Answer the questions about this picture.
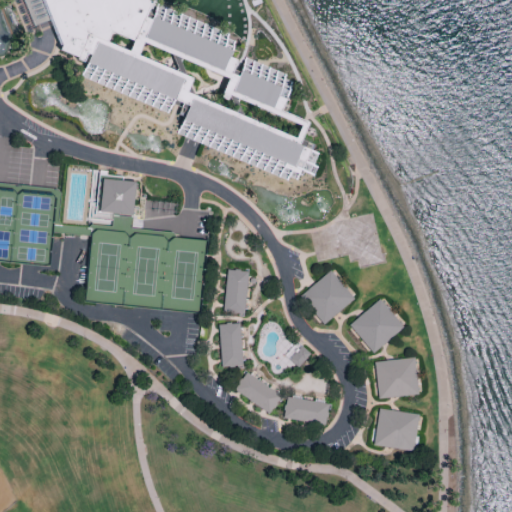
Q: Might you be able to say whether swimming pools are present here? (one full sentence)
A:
Yes, the image includes a swimming pool.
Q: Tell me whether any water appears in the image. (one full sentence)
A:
Yes, water shows up in the scene.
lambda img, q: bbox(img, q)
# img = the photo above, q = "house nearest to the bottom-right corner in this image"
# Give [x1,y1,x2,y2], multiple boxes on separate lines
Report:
[372,409,424,450]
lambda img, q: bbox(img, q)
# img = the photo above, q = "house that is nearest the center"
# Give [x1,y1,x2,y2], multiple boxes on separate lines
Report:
[224,268,251,316]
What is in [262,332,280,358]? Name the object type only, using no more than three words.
swimming pool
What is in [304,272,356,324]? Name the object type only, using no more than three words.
house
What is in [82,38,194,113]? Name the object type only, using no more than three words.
building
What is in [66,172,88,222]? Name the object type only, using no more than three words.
swimming pool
